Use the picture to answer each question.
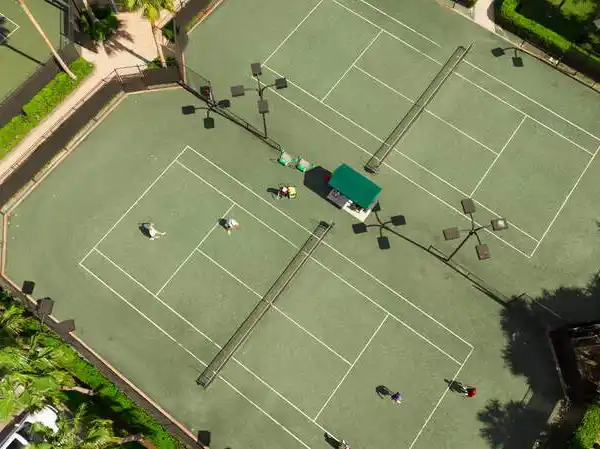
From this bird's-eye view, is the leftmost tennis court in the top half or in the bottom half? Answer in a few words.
top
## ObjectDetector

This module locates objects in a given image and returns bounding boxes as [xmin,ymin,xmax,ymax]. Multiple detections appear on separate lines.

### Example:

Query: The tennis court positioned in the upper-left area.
[0,0,78,98]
